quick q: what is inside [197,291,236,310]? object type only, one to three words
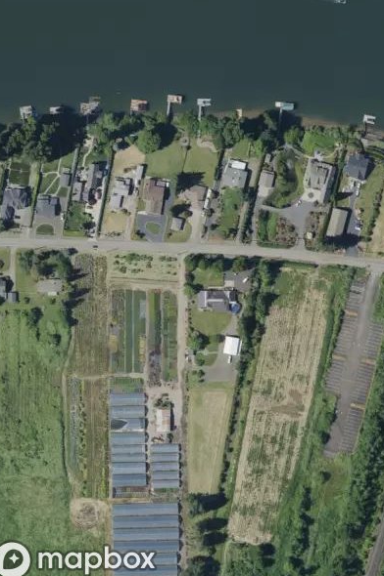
house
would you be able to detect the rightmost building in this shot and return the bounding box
[344,155,368,180]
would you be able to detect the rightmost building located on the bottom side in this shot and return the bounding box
[224,337,243,355]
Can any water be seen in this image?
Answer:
Yes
